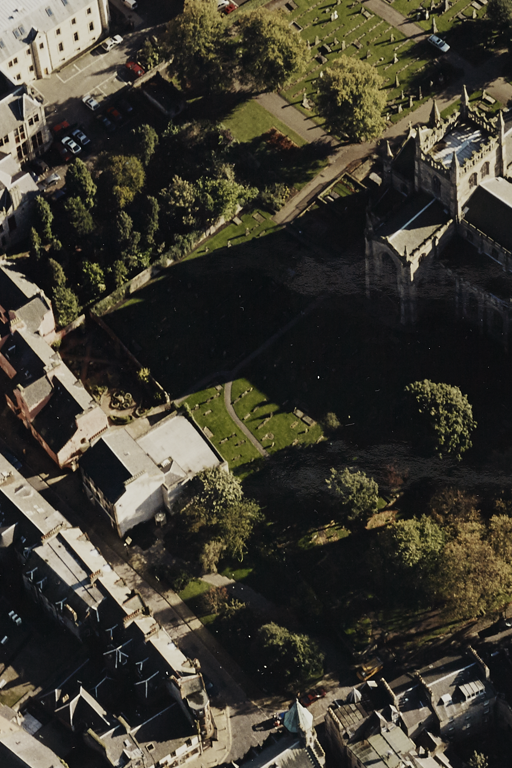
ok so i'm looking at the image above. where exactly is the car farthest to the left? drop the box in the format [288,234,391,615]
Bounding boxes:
[2,450,24,472]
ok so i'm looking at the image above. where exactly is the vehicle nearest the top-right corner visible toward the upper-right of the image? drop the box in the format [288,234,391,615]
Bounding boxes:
[430,33,449,50]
